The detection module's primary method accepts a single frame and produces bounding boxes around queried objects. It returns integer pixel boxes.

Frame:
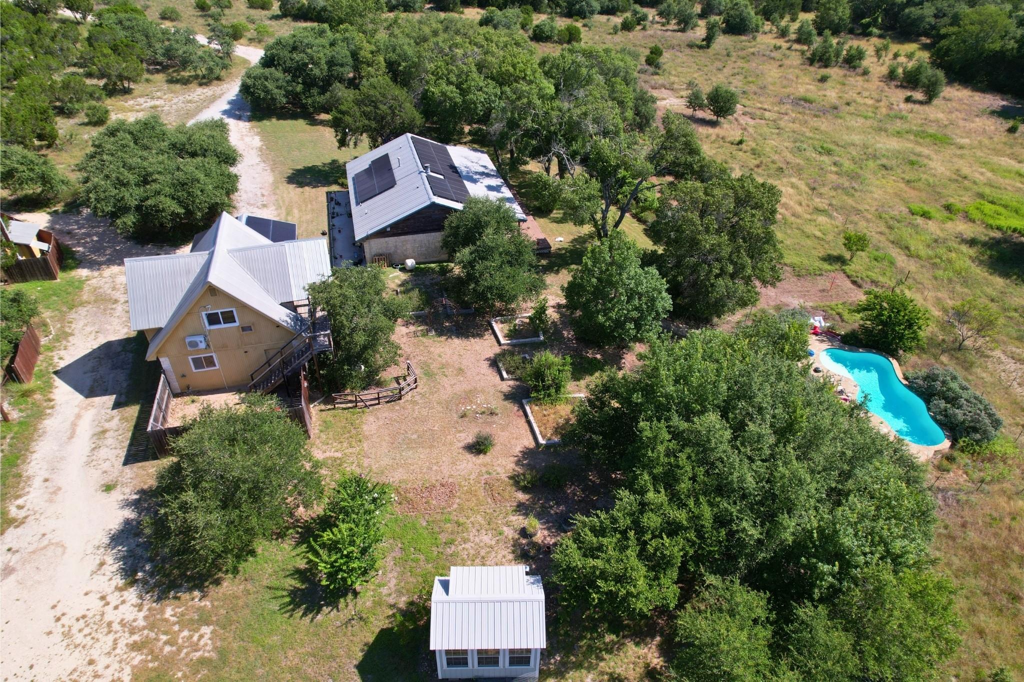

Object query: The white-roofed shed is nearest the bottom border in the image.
[429,566,546,680]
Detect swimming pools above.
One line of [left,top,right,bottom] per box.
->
[821,348,945,445]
